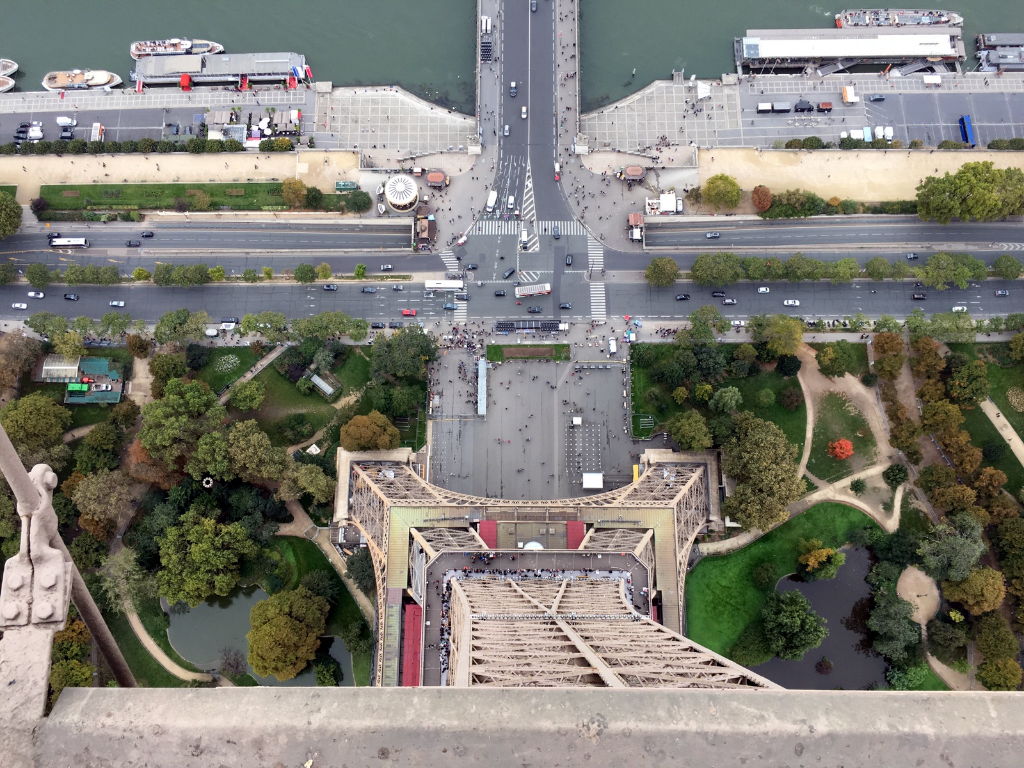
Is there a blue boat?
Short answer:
No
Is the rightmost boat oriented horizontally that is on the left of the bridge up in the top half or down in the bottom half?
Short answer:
top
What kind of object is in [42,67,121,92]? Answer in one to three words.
boat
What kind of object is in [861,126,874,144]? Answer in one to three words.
vehicle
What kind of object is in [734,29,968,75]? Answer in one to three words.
pier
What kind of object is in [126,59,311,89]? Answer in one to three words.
pier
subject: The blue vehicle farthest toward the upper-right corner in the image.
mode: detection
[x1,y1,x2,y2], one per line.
[958,112,977,145]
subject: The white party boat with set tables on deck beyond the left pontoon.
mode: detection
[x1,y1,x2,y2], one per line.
[128,36,226,59]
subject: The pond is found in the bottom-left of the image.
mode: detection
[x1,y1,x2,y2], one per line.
[159,579,363,687]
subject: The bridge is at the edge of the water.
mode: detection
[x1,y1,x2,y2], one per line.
[476,0,580,154]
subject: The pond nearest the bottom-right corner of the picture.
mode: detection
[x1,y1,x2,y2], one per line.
[754,546,894,689]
